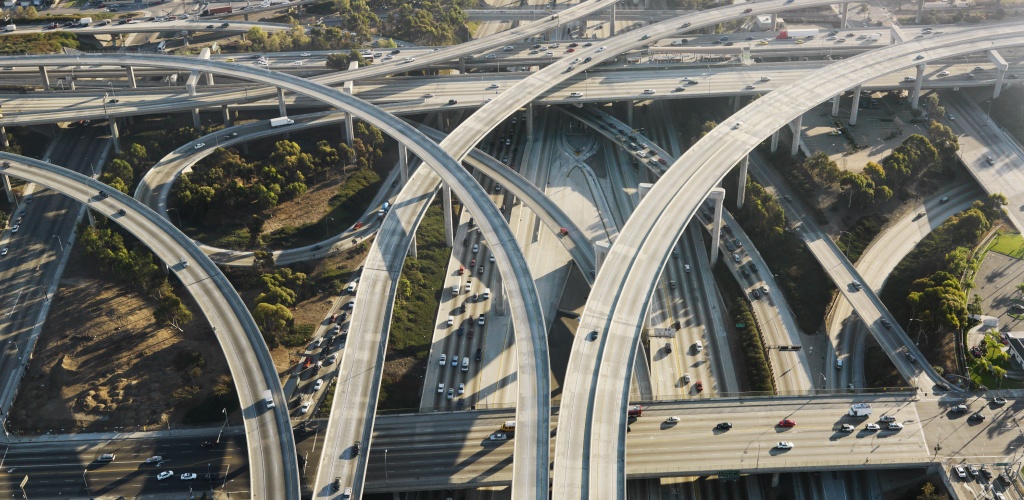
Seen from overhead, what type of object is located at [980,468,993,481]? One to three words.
vehicle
